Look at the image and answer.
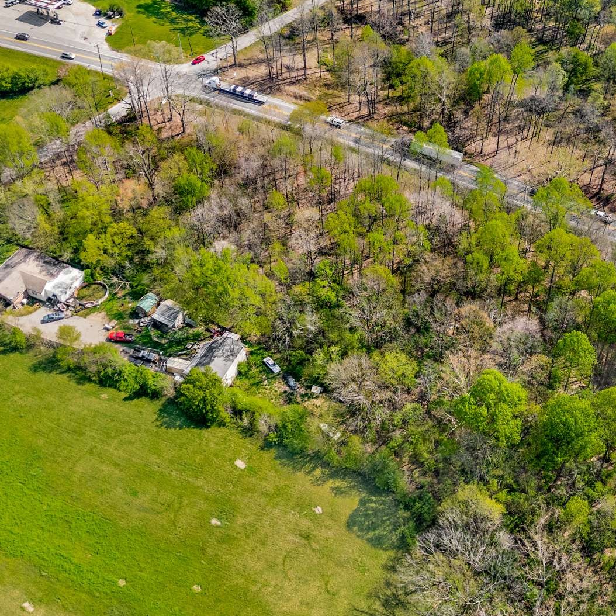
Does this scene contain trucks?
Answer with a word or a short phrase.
Yes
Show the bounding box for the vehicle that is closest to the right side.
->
[590,209,615,222]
